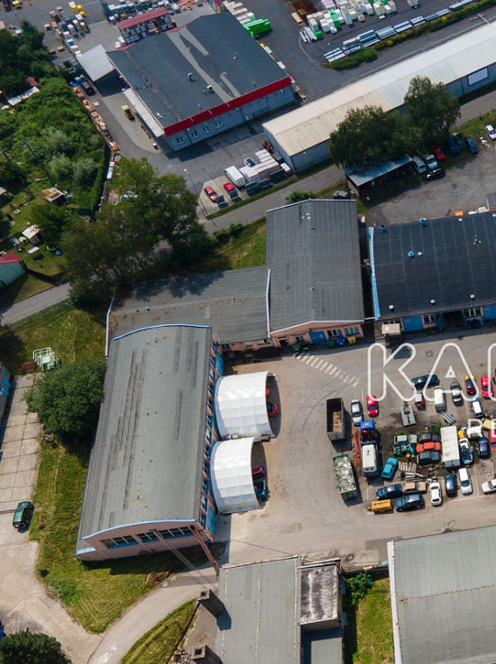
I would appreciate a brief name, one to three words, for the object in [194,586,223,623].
chimney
